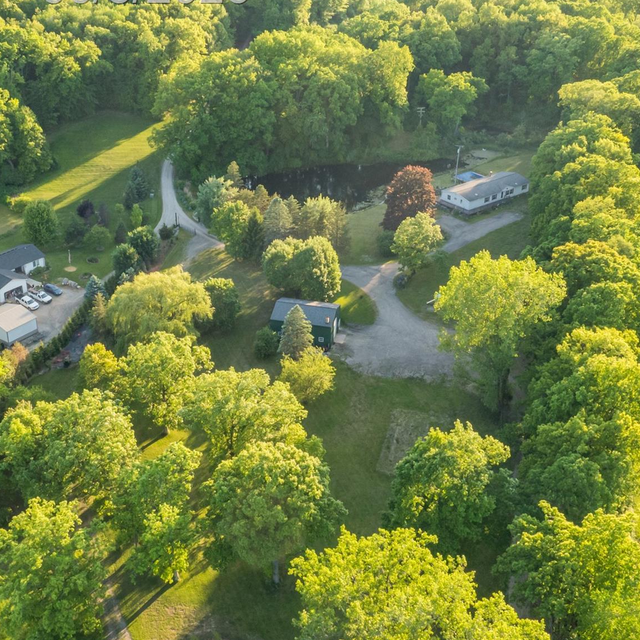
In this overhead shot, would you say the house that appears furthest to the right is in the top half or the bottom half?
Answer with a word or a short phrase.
top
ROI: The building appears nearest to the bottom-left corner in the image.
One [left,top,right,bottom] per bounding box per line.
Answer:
[0,299,39,345]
